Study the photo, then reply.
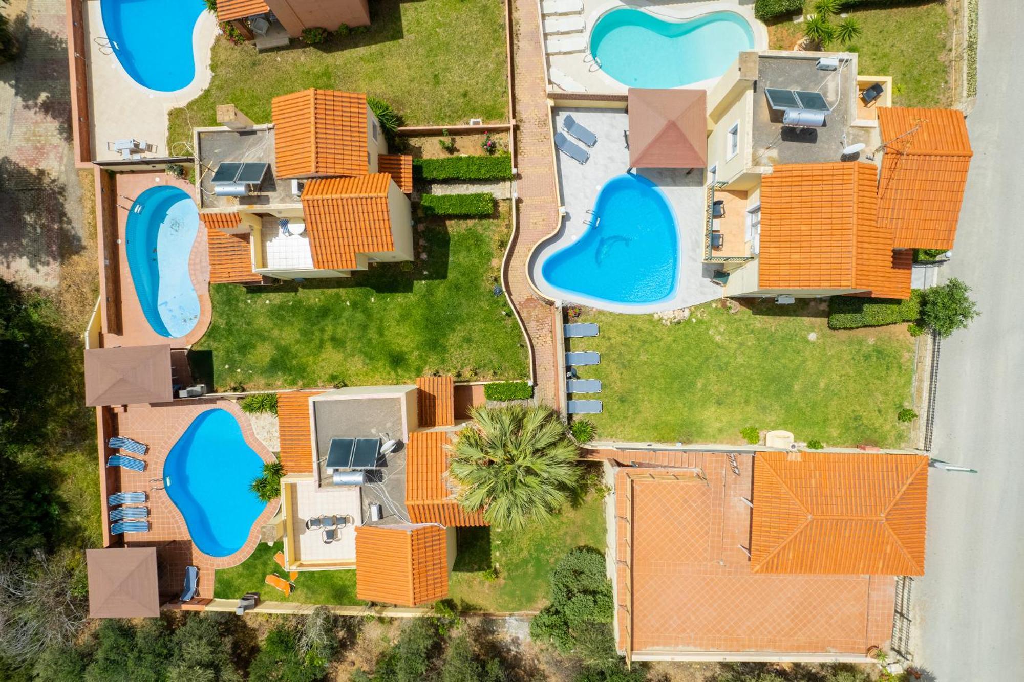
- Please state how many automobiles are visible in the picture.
zero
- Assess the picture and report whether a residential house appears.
Yes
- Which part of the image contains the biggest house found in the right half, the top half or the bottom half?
top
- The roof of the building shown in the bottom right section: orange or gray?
orange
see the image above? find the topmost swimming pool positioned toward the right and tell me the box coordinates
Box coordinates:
[588,5,757,89]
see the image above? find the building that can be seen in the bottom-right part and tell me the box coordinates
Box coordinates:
[739,451,925,577]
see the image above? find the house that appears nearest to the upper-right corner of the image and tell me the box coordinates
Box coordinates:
[702,49,978,300]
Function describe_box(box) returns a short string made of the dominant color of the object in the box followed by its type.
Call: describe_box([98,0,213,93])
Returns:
blue swimming pool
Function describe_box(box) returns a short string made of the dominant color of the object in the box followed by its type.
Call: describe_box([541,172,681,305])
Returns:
blue swimming pool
